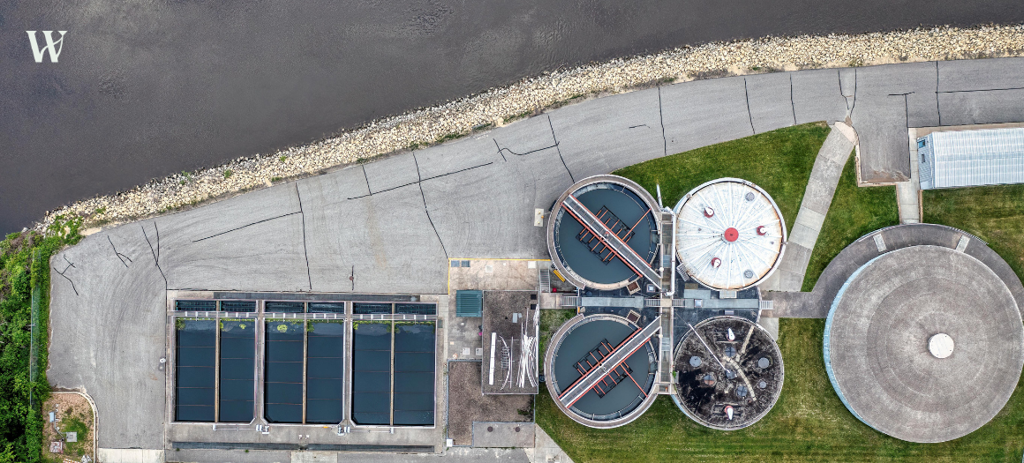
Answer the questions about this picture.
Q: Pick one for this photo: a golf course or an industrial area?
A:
industrial area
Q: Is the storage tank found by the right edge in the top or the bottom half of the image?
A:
bottom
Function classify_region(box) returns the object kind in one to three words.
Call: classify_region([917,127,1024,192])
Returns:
building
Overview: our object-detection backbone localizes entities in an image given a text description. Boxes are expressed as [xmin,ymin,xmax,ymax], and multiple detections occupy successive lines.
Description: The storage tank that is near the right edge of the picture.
[825,245,1024,443]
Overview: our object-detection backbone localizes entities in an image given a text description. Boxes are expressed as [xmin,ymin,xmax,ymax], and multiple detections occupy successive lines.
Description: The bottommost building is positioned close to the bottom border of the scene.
[449,360,535,446]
